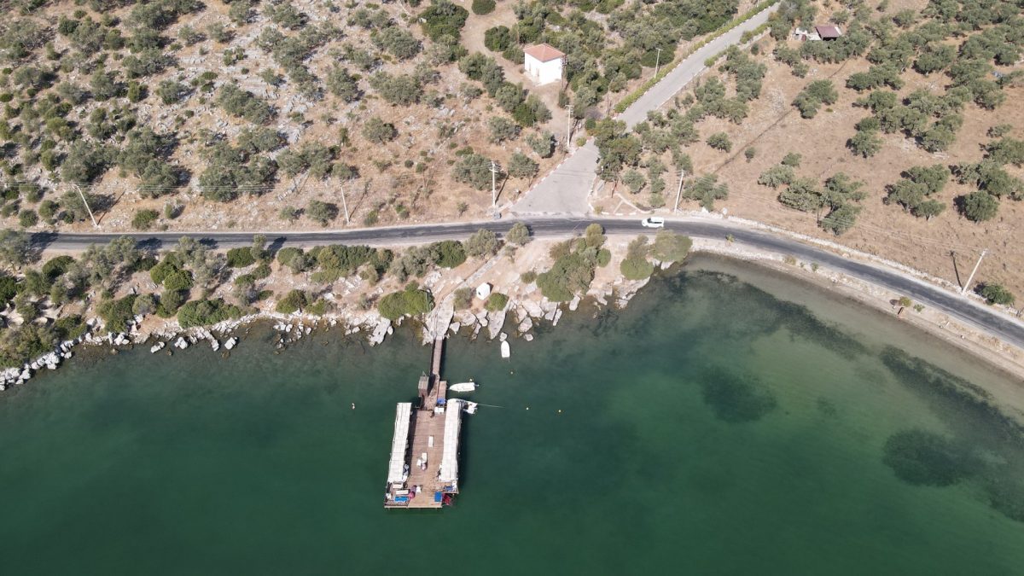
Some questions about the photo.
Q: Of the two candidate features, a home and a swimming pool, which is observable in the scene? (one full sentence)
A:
There is a home in the scene.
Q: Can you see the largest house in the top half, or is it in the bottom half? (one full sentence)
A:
Seen from above, the largest house lies in the top half of the view.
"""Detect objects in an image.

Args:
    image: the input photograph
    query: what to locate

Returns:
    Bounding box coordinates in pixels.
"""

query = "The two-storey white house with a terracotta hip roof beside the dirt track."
[518,45,564,88]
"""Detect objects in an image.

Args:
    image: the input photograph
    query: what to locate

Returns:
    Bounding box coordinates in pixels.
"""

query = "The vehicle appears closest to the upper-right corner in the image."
[642,215,664,227]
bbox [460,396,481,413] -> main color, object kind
white boat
